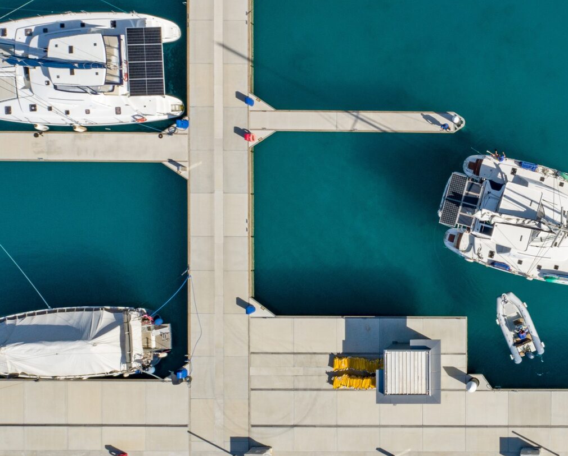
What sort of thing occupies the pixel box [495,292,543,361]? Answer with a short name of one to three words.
boat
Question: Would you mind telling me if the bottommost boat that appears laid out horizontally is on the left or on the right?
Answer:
left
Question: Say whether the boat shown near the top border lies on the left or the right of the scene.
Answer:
left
